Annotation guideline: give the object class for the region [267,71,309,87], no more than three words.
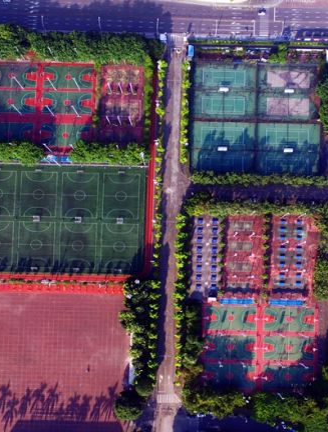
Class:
tennis court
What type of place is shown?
sports ground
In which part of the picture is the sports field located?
left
